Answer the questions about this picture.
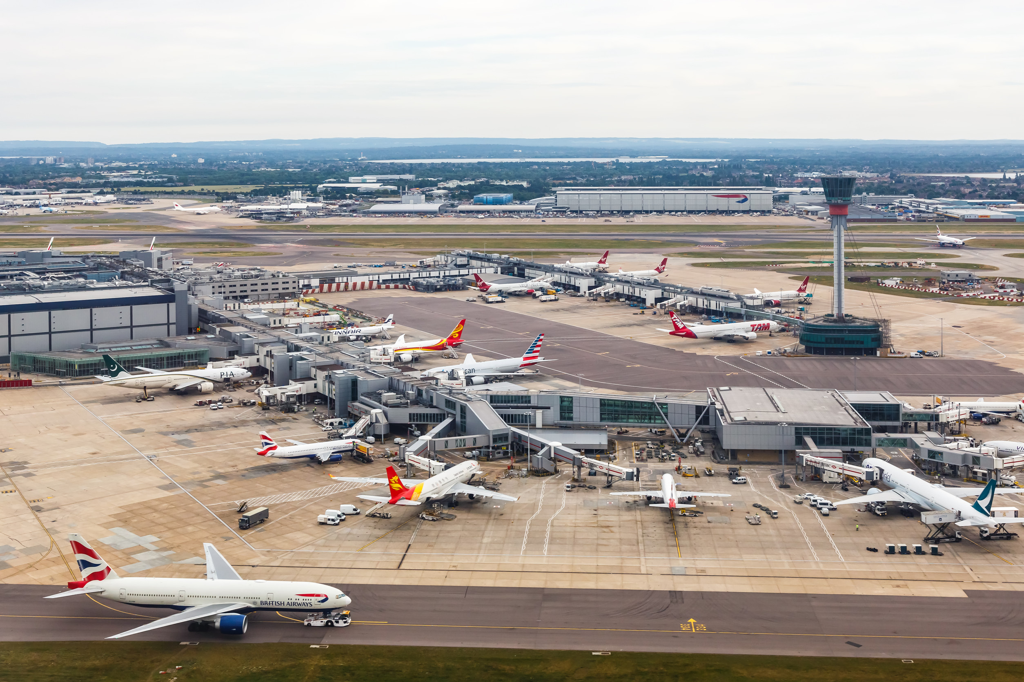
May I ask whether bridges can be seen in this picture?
Yes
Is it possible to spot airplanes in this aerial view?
Yes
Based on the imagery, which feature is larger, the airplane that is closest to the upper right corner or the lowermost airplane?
the lowermost airplane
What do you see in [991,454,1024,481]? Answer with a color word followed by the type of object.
white jet bridge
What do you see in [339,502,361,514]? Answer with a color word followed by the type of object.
white vehicle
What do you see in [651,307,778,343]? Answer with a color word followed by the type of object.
white airplane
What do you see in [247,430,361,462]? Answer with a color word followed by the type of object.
white airplane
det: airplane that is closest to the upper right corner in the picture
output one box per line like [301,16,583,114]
[919,224,975,248]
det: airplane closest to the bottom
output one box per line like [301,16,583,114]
[42,533,352,641]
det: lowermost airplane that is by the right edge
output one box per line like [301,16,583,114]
[833,455,1024,527]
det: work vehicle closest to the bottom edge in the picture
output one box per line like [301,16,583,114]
[305,611,351,627]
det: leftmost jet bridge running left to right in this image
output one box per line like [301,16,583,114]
[206,356,251,370]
